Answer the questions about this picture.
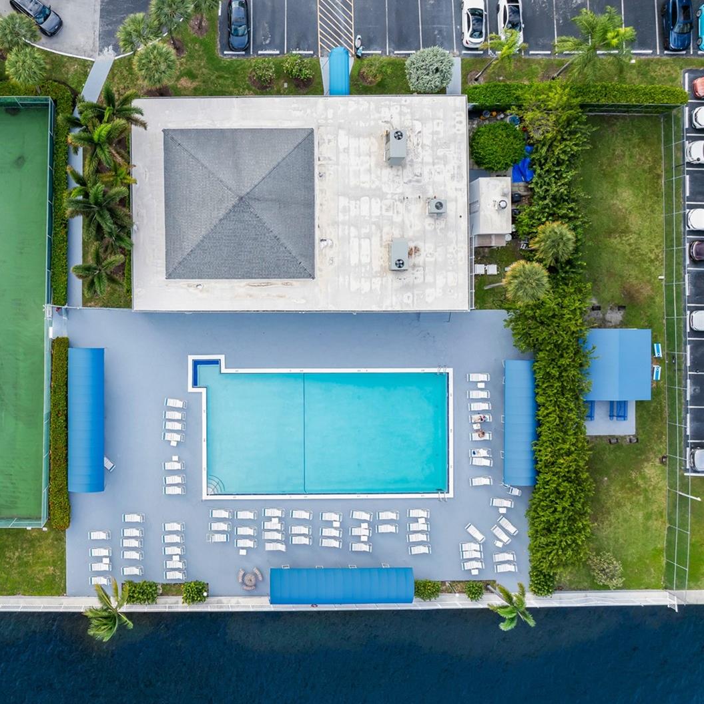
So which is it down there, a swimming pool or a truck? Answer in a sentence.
This aerial view contains a swimming pool.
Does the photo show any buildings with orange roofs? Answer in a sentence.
No, there's no building with an orange roof here.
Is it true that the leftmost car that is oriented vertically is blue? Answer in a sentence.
Yes, the leftmost car that is oriented vertically is blue.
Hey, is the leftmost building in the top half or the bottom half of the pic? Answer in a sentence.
It is in the top half that the leftmost building appears.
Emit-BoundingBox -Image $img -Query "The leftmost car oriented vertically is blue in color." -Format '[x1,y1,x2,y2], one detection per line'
[225,0,251,53]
